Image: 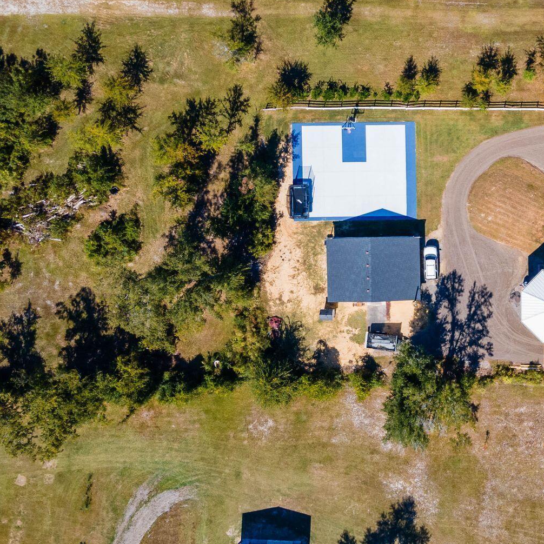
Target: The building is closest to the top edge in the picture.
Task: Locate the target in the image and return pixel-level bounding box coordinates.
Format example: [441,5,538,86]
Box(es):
[327,237,422,303]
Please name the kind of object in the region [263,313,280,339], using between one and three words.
work vehicle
